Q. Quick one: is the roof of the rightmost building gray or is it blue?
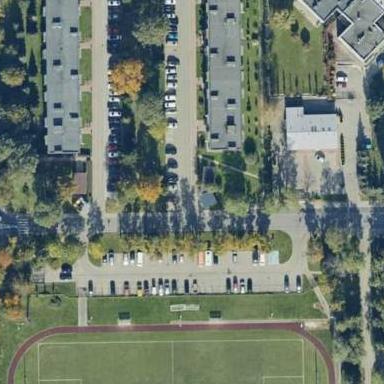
gray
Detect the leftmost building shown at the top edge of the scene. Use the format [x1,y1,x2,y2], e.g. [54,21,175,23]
[43,0,83,153]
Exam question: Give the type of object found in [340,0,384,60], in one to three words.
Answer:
building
